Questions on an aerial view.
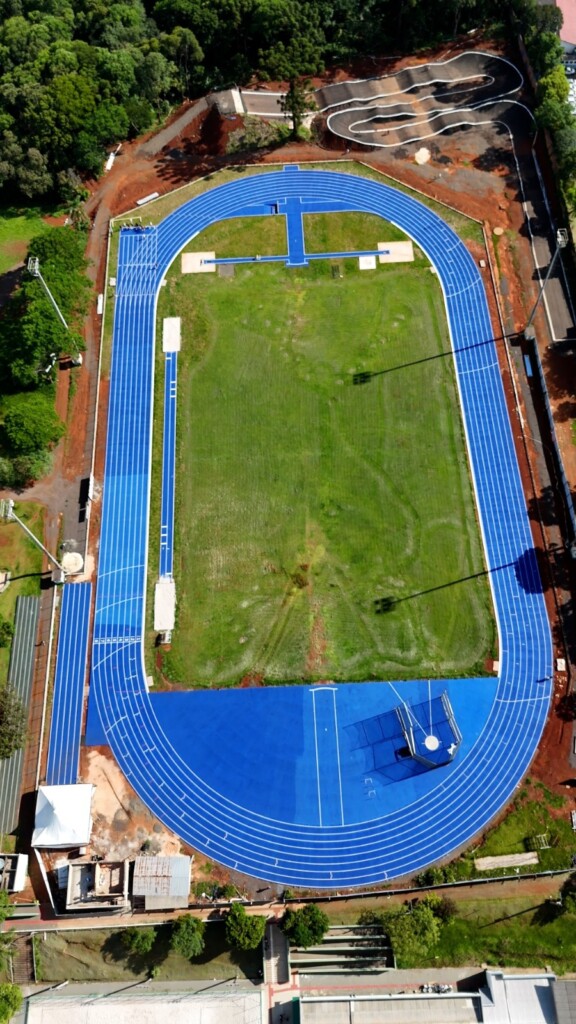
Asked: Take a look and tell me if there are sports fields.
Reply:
Yes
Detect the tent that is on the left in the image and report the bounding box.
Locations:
[32,784,97,849]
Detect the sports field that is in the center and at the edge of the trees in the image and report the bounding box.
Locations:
[146,209,499,693]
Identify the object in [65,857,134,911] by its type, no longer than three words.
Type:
building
